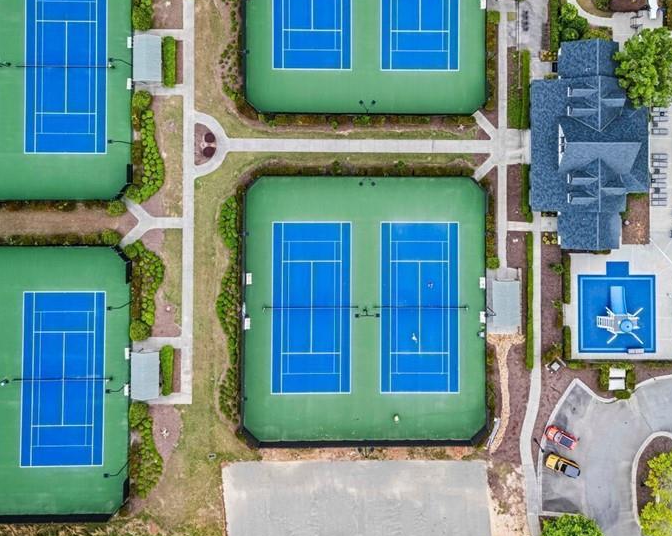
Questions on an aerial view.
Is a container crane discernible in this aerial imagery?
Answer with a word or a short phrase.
No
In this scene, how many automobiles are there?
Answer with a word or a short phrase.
two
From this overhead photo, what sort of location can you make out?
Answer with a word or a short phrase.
sports ground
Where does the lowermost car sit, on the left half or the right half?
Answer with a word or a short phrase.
right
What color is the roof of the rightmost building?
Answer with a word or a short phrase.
blue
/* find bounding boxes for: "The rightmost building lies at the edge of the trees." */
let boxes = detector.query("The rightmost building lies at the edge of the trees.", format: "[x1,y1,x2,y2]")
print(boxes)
[529,37,648,251]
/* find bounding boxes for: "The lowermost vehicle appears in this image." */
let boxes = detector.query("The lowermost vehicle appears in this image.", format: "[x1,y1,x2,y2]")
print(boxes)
[546,453,581,481]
